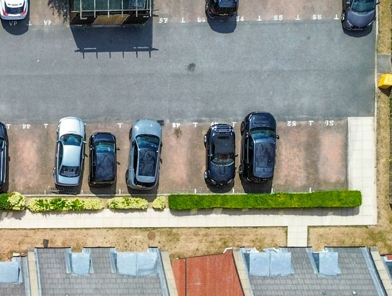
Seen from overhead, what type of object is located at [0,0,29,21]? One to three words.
car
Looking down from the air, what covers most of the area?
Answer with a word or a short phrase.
paved ground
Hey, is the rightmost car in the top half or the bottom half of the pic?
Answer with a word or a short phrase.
top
